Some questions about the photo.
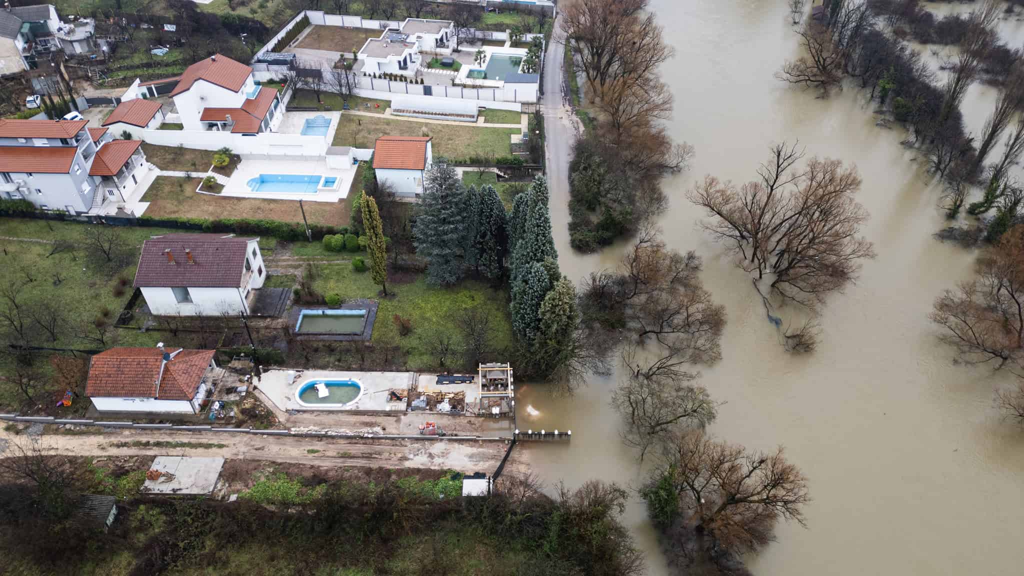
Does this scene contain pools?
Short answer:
Yes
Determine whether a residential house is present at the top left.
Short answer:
Yes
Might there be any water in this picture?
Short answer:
Yes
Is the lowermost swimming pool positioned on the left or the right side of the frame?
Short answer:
left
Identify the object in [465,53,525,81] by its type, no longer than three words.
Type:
swimming pool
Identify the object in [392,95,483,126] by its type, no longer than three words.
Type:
greenhouse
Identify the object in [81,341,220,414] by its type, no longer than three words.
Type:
house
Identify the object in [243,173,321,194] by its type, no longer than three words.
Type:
swimming pool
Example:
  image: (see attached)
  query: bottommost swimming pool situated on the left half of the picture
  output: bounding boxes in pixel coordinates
[293,376,371,409]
